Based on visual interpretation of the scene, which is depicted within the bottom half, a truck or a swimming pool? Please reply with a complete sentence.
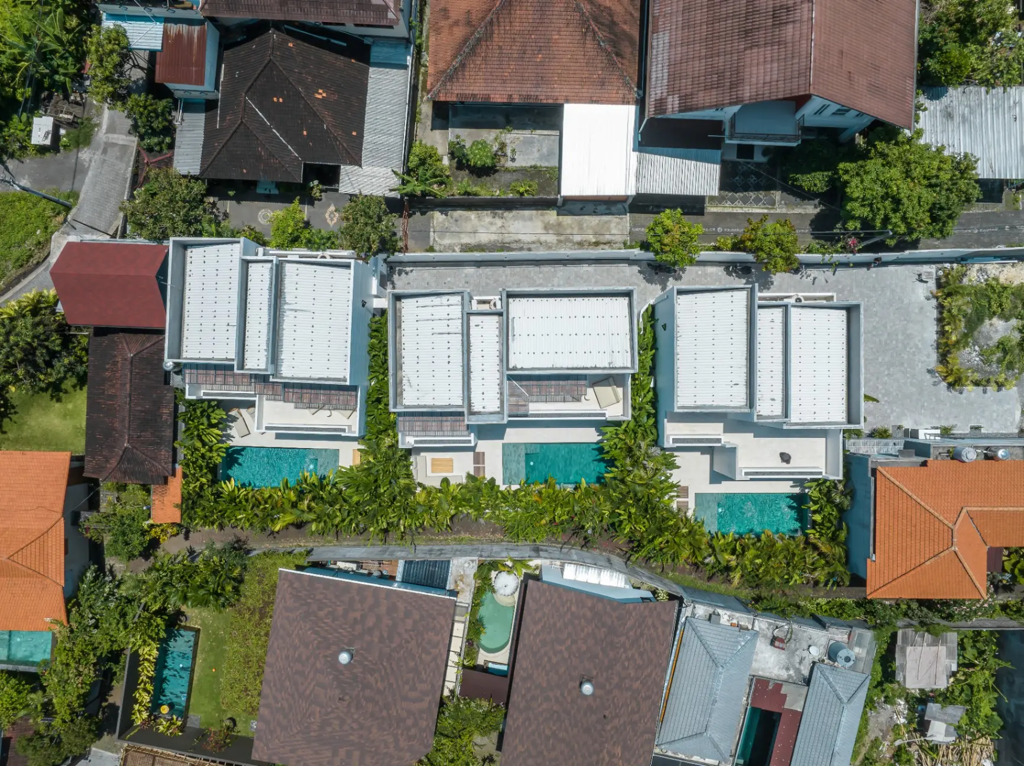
There is a swimming pool within the bottom half.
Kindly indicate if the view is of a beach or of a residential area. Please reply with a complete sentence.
This image shows a residential area.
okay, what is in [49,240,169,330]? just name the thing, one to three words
house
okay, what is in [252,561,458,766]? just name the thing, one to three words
house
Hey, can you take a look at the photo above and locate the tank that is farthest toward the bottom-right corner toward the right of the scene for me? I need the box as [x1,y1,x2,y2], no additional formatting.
[823,638,855,668]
